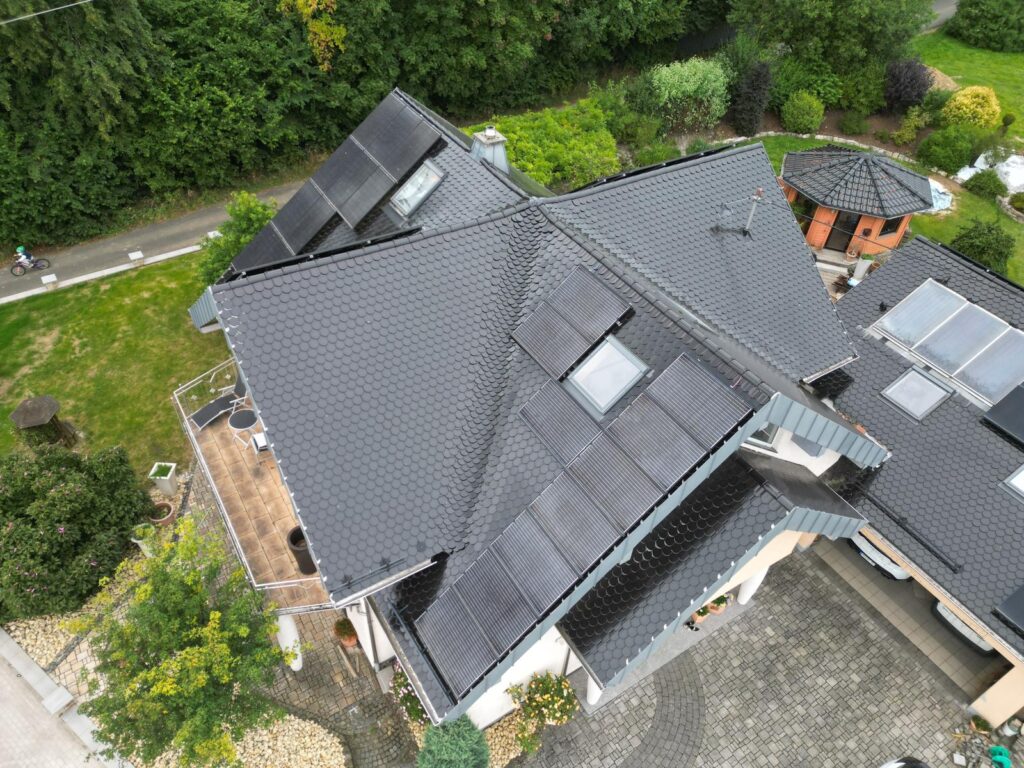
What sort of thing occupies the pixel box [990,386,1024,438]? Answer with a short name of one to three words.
solar panel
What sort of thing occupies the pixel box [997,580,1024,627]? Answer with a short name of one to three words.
solar panel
